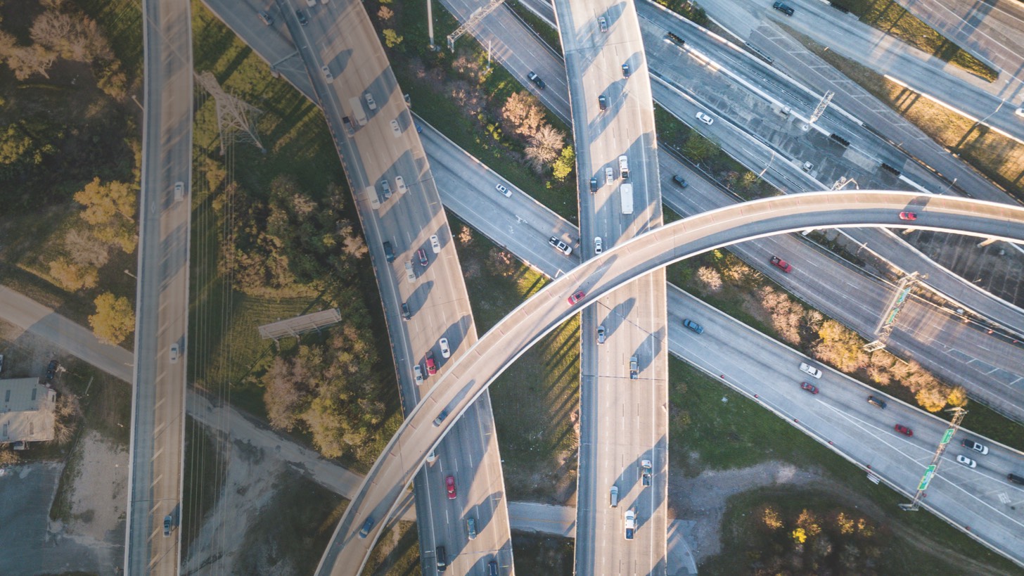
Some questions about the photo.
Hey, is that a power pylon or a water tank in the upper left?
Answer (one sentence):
The one visible in the upper left is a power pylon.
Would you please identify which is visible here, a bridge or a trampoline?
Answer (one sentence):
Looking from above, you can make out a bridge.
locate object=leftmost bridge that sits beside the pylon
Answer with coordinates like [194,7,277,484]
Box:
[123,0,195,576]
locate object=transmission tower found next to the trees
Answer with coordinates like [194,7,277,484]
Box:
[195,76,267,155]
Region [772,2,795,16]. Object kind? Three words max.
vehicle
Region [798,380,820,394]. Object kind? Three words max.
car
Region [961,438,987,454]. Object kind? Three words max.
vehicle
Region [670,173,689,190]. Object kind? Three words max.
car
